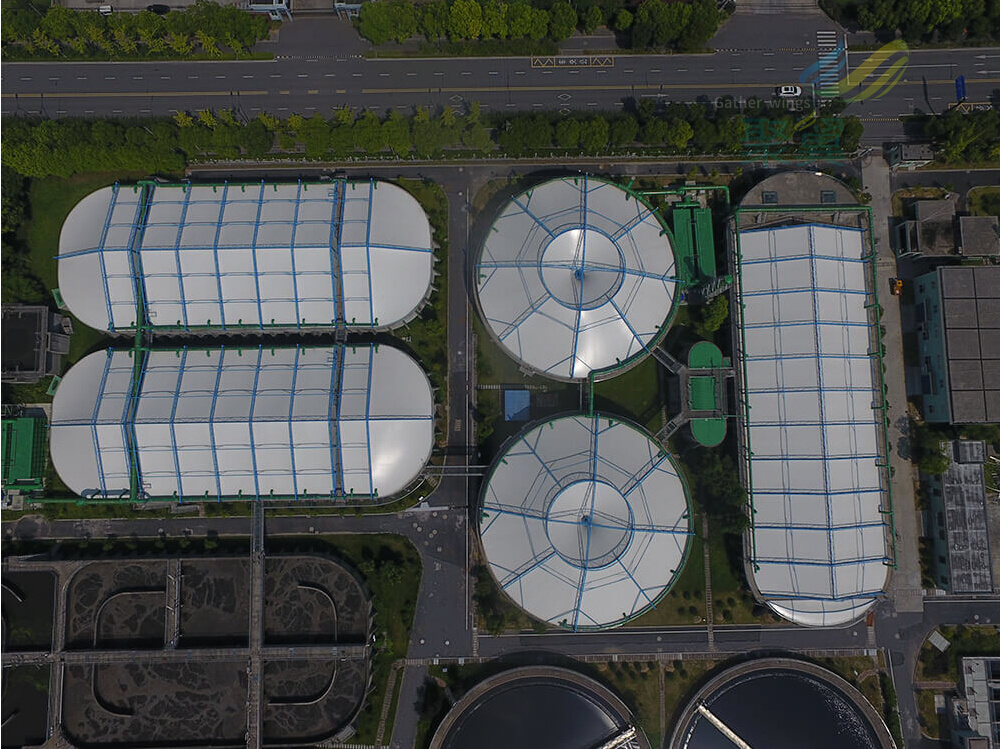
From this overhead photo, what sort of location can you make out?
industrial area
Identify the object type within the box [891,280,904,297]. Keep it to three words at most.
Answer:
vehicle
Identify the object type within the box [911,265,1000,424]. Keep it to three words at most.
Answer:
building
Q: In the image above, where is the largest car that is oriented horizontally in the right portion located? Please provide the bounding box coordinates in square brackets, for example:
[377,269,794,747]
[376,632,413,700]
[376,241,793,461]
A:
[778,83,803,96]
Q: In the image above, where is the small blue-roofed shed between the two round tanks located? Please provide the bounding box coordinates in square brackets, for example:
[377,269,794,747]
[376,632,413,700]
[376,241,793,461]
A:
[505,391,529,420]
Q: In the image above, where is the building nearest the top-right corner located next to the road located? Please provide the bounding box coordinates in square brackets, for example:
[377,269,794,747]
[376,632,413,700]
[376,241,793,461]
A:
[889,142,937,176]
